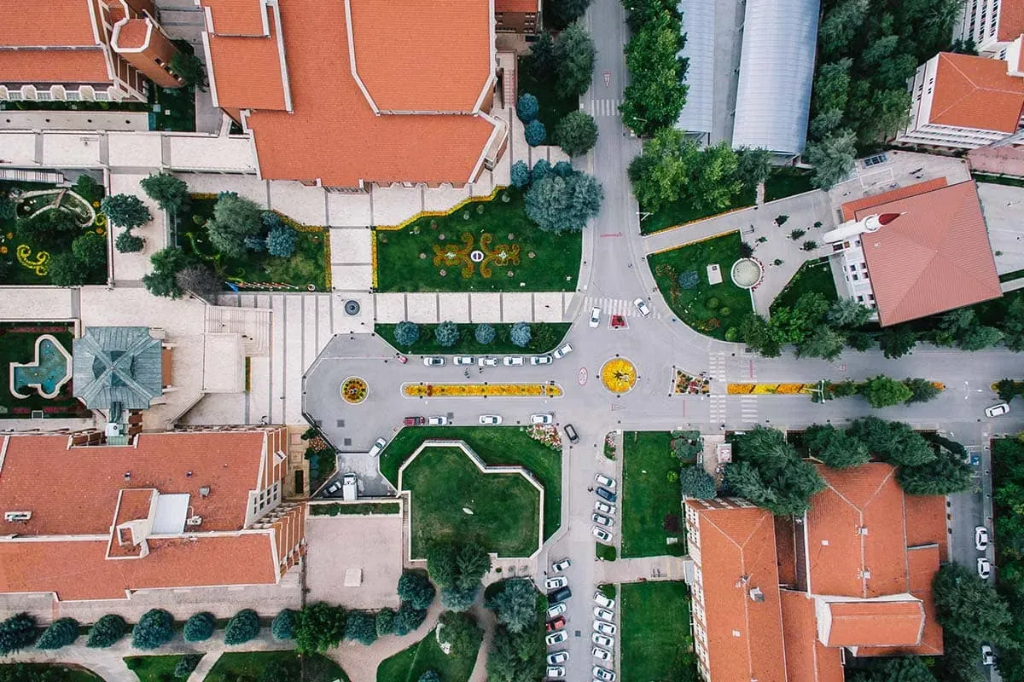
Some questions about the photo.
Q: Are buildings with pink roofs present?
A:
Yes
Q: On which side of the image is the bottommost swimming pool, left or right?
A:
left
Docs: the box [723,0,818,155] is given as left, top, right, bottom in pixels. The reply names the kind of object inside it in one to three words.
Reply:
shed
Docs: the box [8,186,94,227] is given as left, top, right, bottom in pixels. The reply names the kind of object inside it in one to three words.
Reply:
pond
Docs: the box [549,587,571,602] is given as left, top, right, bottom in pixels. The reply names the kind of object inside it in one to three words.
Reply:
car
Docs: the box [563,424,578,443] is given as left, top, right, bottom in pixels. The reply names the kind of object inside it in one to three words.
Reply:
car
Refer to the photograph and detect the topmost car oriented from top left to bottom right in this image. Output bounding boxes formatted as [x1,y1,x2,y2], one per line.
[633,297,650,318]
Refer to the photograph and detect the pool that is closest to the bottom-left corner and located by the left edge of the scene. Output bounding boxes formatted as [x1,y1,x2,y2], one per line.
[7,331,73,400]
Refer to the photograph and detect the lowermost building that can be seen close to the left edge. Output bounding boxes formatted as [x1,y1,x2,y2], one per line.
[0,412,303,602]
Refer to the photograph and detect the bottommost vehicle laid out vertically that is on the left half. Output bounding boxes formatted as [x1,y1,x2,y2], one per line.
[343,471,356,501]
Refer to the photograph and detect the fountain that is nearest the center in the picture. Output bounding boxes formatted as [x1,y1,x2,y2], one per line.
[343,299,360,316]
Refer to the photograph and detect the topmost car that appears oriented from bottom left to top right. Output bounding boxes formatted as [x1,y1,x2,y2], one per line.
[553,343,573,359]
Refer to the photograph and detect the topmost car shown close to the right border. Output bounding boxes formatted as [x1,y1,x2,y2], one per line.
[984,404,1007,416]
